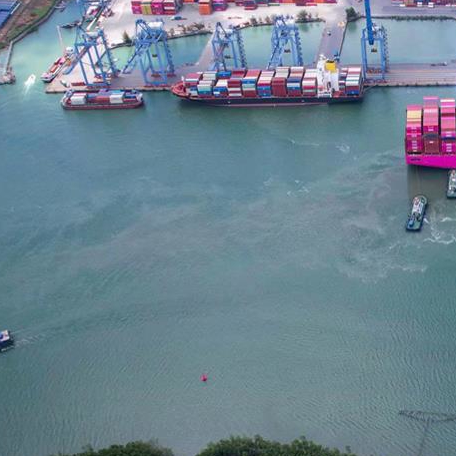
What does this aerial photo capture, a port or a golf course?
port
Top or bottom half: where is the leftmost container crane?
top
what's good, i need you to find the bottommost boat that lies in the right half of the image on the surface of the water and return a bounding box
[398,195,425,229]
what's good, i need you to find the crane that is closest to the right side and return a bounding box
[361,0,389,79]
